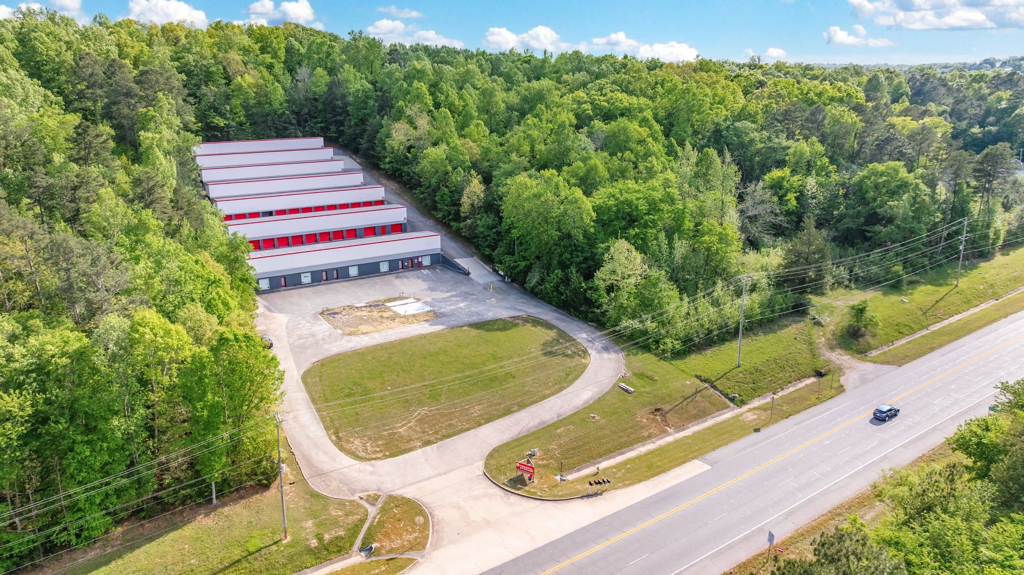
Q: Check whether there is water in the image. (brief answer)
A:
No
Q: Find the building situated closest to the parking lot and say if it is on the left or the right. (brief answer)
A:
left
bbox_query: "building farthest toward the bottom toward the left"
[240,233,442,296]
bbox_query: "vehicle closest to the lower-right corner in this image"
[871,402,901,421]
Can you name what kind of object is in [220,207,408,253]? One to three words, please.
building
